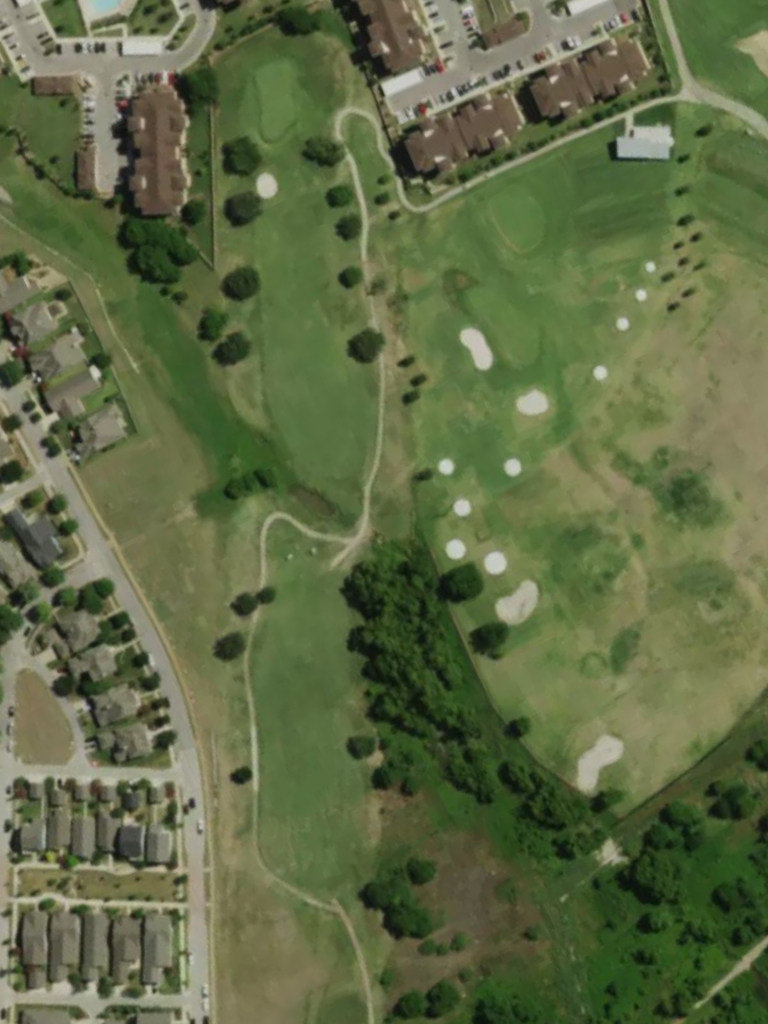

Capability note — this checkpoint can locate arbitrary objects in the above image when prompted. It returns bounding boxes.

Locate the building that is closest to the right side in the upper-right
[617,126,675,158]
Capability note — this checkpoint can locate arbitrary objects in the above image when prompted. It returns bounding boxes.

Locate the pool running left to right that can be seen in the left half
[82,0,138,22]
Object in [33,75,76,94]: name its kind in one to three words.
building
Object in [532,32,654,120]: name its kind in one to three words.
building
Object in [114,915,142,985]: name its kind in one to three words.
house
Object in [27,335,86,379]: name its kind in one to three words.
house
